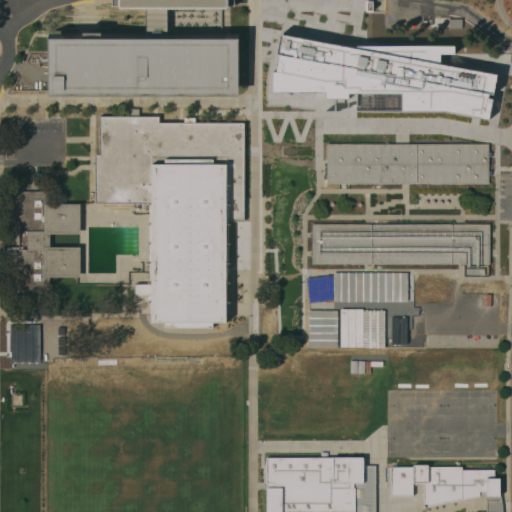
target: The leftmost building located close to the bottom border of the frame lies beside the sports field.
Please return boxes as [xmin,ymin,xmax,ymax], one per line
[267,452,377,512]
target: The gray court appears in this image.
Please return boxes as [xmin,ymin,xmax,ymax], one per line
[388,390,497,458]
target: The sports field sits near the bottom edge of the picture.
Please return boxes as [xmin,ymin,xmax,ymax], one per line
[48,357,249,512]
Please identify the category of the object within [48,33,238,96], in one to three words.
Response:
building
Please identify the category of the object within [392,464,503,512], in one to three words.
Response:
building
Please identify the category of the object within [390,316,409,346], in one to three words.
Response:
barn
